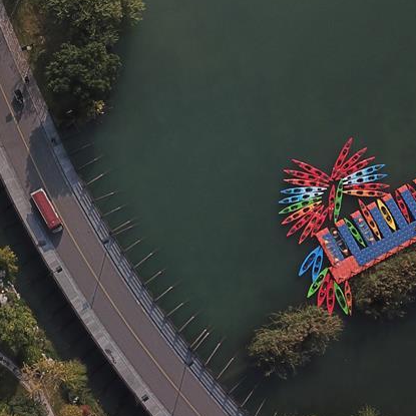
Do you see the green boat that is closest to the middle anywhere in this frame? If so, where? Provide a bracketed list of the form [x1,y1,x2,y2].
[280,198,321,213]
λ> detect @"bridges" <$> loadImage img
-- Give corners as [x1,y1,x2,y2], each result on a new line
[0,128,255,416]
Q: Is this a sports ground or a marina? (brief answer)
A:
marina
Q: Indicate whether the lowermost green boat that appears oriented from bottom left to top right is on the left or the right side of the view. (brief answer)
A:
right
